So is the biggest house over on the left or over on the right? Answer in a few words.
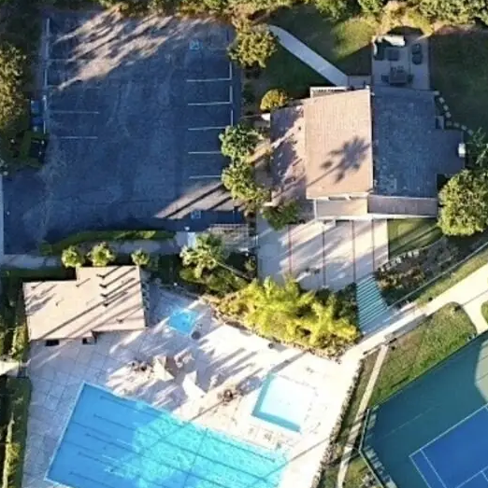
right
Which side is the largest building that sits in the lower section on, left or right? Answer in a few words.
left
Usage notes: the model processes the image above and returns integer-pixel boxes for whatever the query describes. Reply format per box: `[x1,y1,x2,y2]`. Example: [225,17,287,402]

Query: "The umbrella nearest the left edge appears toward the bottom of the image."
[152,350,184,383]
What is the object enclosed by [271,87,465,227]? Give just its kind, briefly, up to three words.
house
